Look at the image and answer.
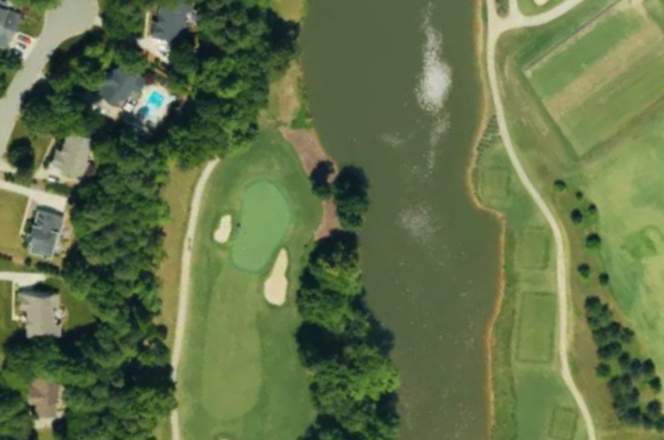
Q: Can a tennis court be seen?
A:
No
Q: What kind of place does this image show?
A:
golf course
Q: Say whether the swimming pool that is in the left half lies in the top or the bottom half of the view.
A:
top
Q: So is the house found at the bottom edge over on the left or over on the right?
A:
left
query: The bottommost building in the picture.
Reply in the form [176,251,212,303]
[27,378,62,419]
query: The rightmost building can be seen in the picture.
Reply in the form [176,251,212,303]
[149,0,193,44]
